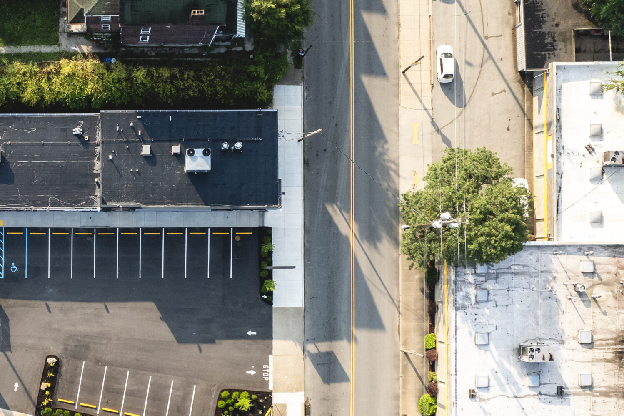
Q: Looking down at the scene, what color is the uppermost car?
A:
white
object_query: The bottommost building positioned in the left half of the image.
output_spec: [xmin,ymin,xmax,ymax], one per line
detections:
[0,108,279,214]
